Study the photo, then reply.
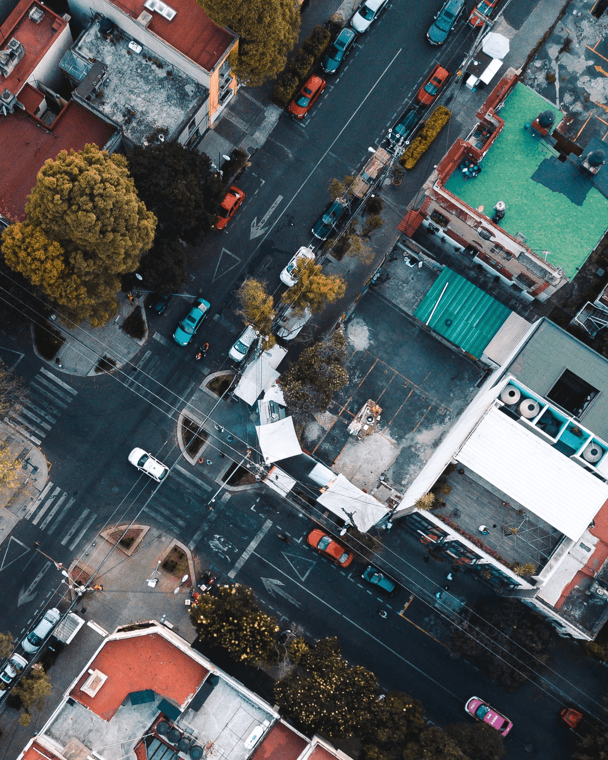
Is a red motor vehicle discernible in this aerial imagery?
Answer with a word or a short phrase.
Yes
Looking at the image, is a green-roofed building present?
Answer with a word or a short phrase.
Yes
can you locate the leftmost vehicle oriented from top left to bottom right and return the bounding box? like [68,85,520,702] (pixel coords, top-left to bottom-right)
[124,445,174,487]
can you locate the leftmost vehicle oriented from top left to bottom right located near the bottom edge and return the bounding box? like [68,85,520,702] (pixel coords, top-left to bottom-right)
[462,695,514,741]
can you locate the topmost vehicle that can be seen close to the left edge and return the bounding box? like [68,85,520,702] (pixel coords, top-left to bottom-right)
[20,605,63,658]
